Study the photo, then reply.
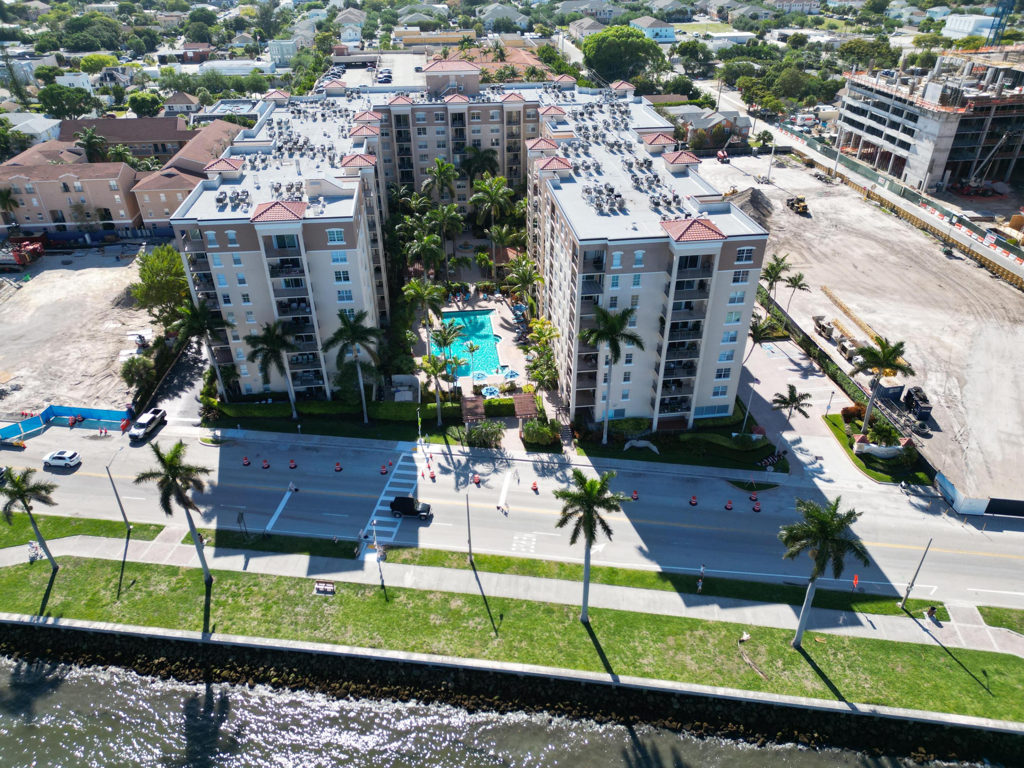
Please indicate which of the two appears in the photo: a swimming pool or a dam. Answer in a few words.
swimming pool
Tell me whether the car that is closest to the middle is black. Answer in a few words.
Yes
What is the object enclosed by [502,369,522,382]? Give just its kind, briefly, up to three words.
umbrella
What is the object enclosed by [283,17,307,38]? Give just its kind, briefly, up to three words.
house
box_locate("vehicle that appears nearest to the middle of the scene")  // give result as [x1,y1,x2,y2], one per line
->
[388,501,431,524]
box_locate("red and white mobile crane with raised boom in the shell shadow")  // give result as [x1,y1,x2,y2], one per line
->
[956,128,1024,193]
